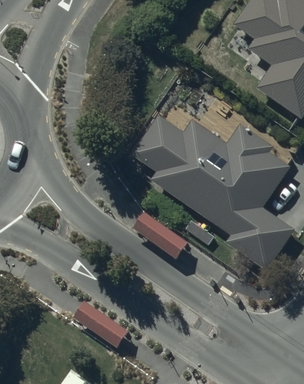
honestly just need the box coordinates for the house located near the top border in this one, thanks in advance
[234,0,304,120]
